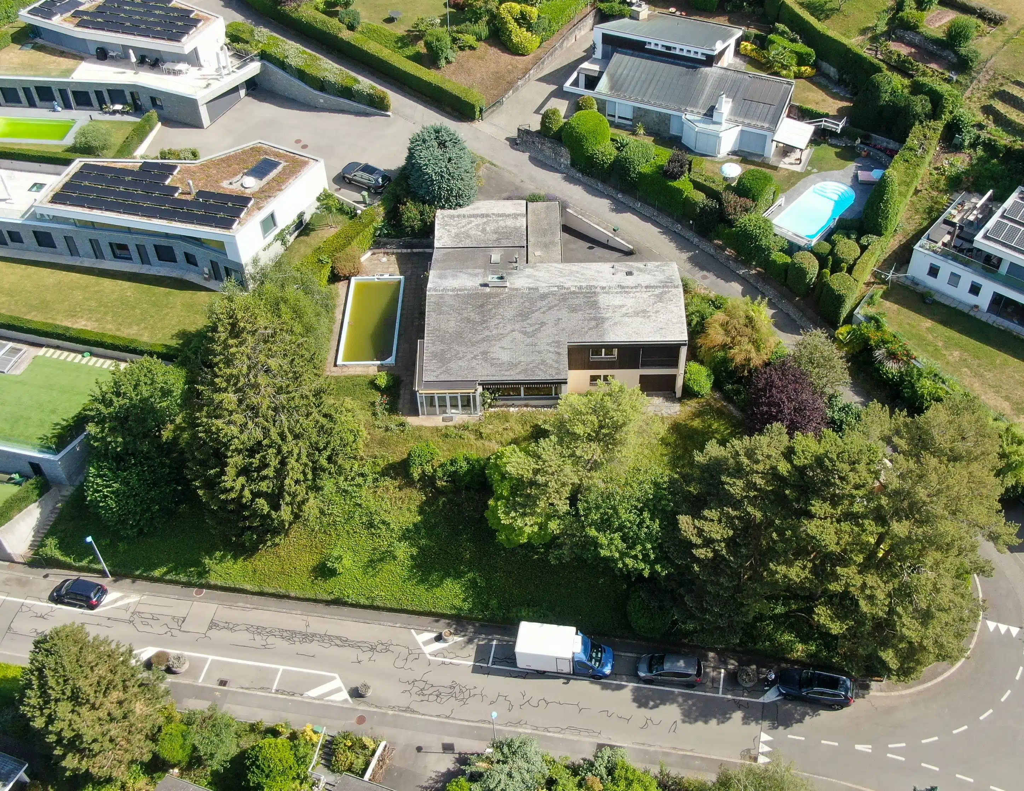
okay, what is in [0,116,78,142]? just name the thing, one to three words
swimming pool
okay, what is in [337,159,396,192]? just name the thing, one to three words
car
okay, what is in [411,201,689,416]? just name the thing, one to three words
house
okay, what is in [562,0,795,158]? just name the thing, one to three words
house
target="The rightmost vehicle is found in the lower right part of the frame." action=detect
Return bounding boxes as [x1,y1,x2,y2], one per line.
[778,669,863,715]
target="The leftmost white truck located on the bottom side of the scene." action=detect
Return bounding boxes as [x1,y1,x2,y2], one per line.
[511,620,616,687]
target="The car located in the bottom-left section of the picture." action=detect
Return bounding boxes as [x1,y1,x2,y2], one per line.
[46,574,108,613]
